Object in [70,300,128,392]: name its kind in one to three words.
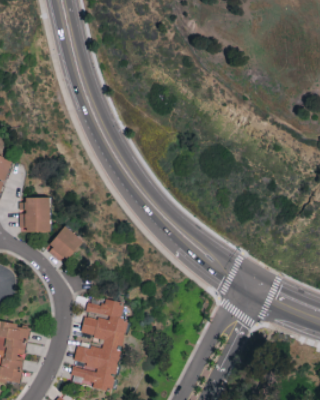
house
